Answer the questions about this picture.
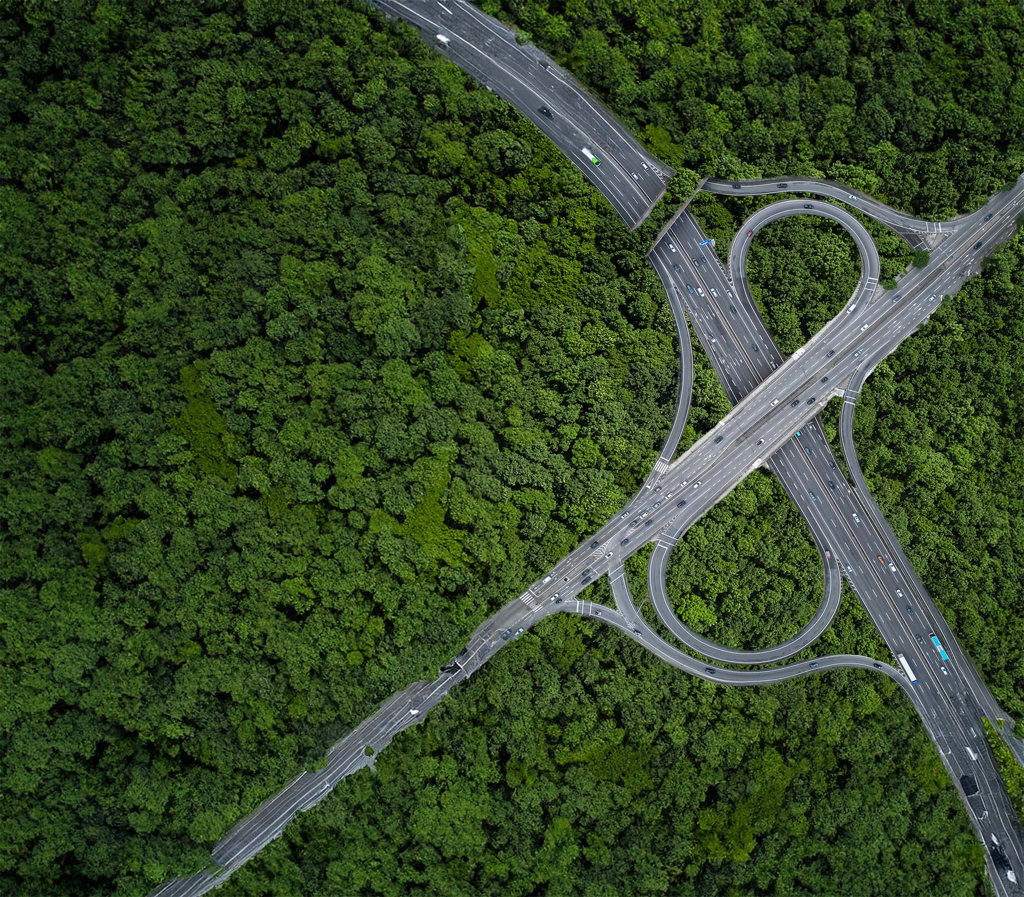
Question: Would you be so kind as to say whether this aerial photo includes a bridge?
Yes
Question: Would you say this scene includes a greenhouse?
No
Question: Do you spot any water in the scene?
No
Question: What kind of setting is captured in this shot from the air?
forest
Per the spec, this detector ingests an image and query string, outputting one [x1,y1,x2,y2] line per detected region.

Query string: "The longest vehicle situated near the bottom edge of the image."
[995,847,1014,884]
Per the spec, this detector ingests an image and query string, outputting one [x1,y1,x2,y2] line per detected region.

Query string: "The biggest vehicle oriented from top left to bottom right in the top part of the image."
[582,145,600,166]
